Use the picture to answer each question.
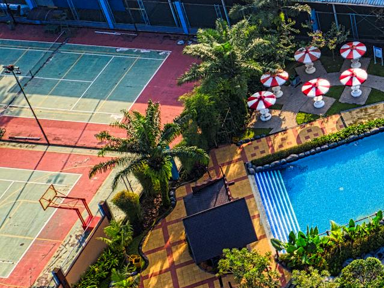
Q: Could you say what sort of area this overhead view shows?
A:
sports ground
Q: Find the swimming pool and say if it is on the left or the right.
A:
right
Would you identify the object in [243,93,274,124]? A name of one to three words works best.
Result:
umbrella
